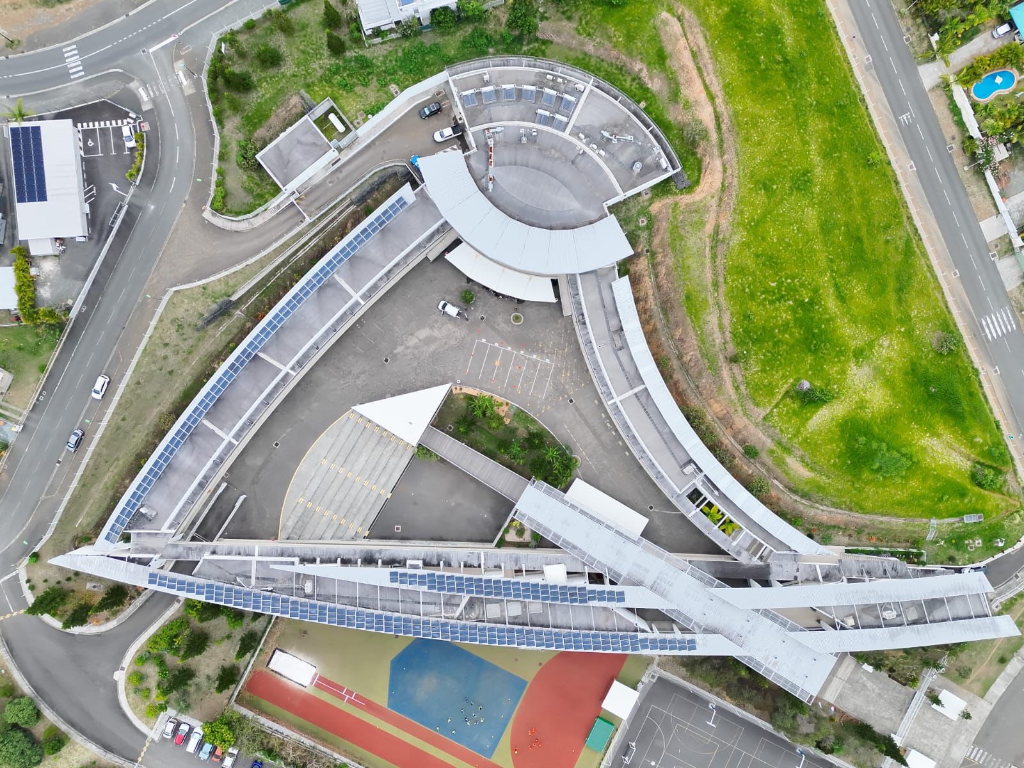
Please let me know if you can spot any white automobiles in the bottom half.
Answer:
Yes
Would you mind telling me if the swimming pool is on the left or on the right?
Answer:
right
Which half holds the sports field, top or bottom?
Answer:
bottom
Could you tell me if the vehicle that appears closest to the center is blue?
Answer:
No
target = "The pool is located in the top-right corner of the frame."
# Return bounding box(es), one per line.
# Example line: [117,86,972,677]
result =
[969,67,1019,103]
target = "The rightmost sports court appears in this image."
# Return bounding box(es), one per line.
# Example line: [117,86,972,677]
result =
[582,669,861,768]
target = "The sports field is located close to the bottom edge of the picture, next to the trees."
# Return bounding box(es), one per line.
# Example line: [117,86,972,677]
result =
[234,616,651,768]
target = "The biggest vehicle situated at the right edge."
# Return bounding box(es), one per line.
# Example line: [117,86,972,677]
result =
[990,18,1016,37]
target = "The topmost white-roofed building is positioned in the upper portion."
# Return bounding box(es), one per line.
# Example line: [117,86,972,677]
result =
[359,0,458,50]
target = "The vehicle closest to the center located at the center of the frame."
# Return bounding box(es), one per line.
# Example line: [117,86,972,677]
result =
[438,300,466,322]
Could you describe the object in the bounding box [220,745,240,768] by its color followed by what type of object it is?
white vehicle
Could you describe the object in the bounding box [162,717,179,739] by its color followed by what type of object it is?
white car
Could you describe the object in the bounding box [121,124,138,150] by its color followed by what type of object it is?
white car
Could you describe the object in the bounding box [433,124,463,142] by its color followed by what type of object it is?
white vehicle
